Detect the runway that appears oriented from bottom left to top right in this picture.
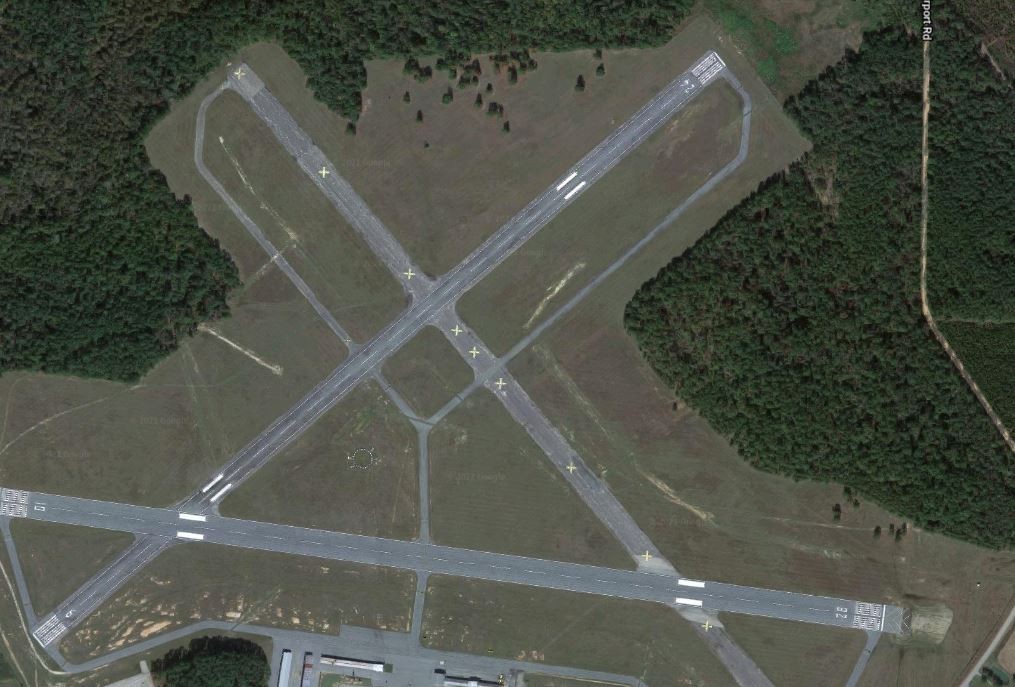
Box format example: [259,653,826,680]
[32,50,726,648]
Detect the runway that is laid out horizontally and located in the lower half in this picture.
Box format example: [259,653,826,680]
[0,487,913,635]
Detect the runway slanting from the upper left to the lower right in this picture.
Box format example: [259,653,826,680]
[227,62,769,687]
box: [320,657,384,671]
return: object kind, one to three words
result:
hangar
